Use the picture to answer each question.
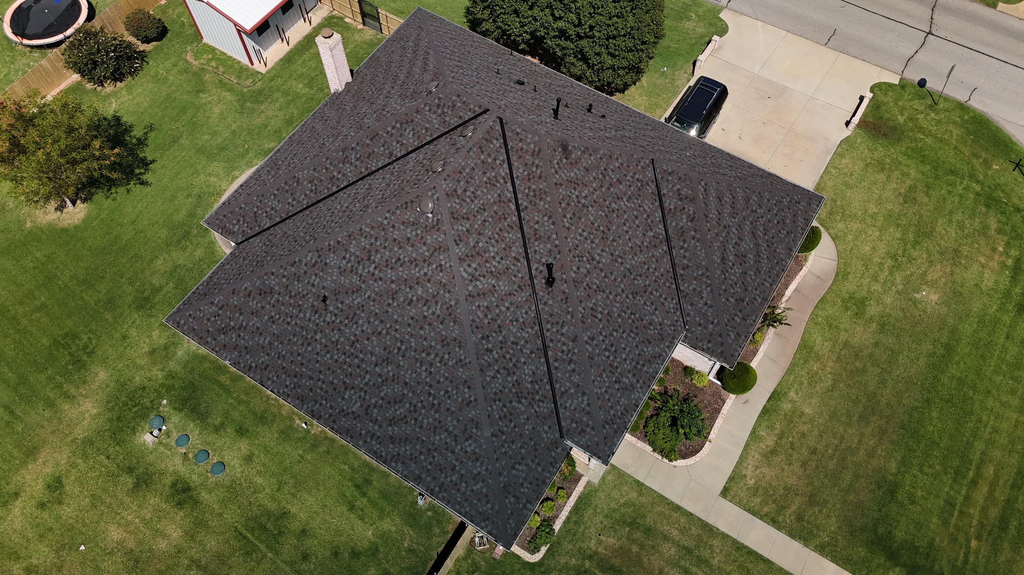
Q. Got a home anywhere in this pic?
Yes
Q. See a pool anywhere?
No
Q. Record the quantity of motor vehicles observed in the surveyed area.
1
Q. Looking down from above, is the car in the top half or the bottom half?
top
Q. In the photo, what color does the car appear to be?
black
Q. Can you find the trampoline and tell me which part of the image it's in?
top left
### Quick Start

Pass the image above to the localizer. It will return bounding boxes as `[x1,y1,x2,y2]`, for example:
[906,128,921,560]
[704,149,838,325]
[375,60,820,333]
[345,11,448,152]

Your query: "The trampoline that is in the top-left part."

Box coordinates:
[4,0,95,55]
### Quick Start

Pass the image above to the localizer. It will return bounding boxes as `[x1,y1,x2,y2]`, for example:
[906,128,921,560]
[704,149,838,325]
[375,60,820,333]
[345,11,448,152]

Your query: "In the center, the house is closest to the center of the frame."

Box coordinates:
[163,5,825,553]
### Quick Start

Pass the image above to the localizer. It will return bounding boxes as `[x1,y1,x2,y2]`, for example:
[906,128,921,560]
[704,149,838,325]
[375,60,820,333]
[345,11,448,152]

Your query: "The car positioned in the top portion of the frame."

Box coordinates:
[662,70,729,139]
